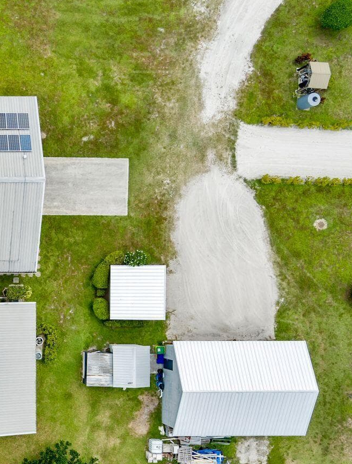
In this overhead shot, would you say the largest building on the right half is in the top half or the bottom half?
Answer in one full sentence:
The largest building on the right half is in the bottom half of the image.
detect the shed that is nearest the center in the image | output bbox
[104,265,167,320]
